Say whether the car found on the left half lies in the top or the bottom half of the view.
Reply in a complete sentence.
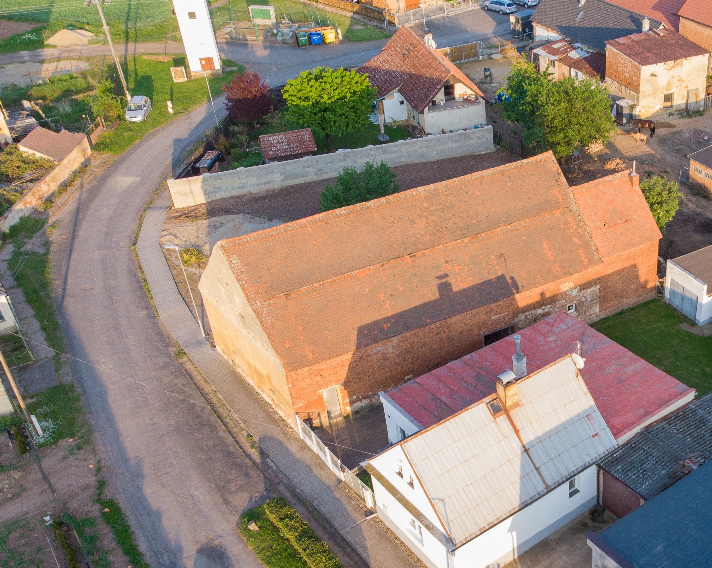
It is in the top half that the car found on the left half appears.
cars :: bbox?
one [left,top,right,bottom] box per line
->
[483,0,518,15]
[512,0,538,8]
[121,93,153,121]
